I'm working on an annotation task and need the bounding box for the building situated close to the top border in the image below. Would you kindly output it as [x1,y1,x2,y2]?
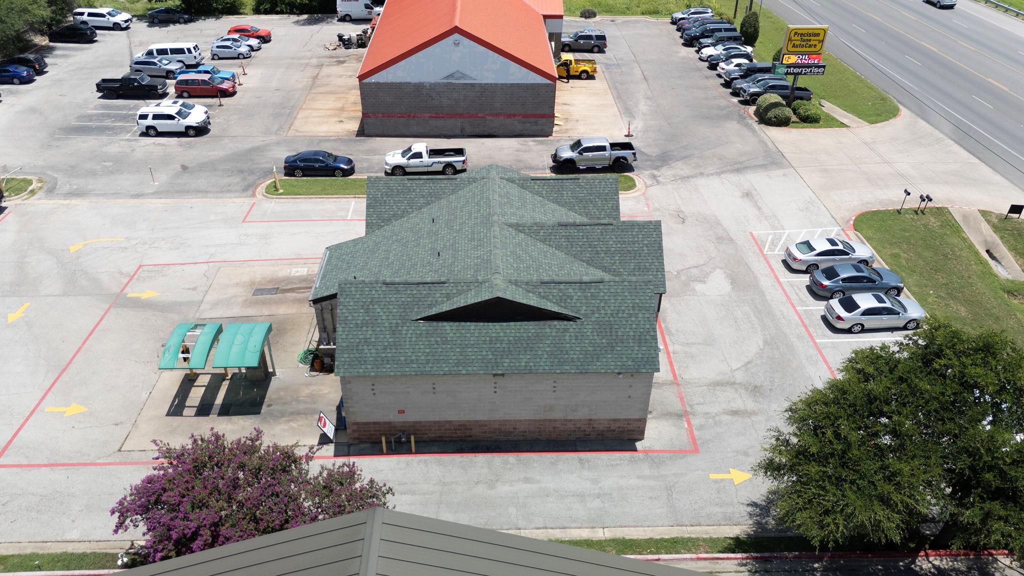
[356,0,564,136]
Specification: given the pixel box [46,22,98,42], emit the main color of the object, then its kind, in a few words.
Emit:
black car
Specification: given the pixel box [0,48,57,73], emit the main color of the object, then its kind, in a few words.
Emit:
black car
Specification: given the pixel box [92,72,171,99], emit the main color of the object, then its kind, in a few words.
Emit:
black truck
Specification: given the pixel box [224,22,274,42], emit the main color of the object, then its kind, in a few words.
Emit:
red car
